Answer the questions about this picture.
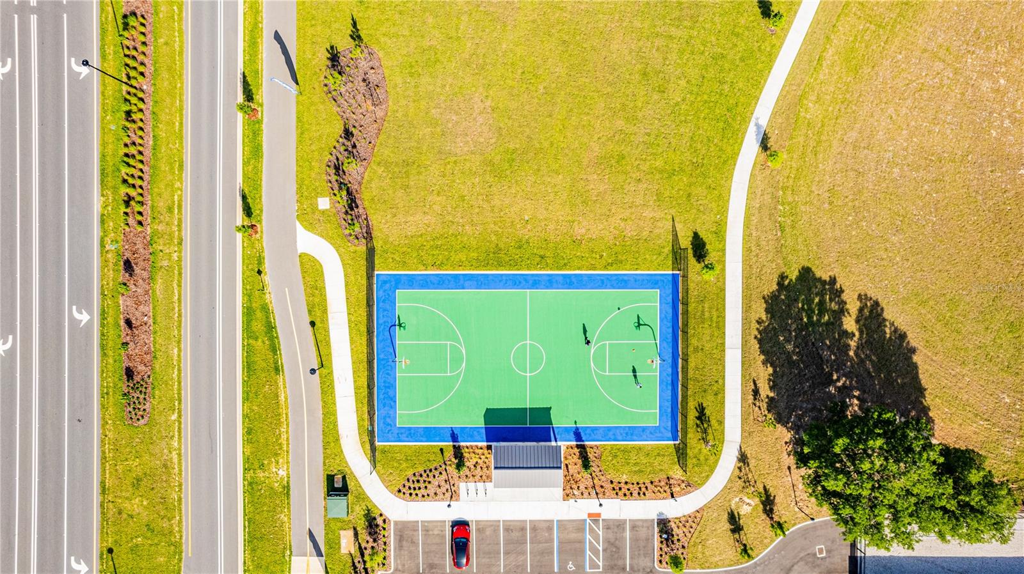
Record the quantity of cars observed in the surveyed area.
1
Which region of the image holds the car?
bottom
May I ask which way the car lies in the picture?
from top to bottom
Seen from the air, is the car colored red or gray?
red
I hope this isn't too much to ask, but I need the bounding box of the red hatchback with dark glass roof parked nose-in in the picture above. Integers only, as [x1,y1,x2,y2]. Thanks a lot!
[451,524,472,570]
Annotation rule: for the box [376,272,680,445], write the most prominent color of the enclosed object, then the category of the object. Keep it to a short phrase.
green basketball court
